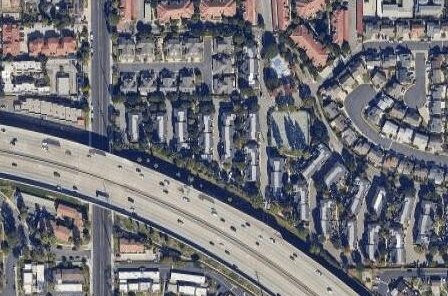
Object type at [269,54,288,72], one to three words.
swimming pool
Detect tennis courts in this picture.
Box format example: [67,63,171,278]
[271,109,309,146]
